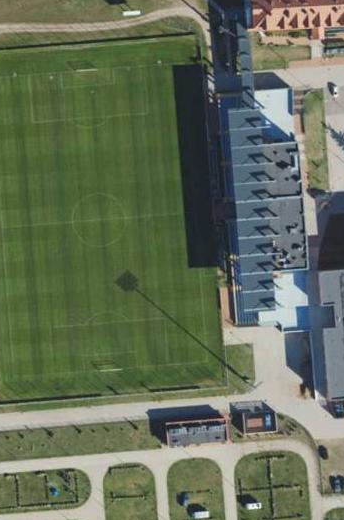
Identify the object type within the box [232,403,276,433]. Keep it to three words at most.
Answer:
building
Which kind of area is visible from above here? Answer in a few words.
sports ground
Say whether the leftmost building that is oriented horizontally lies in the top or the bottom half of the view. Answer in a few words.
bottom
